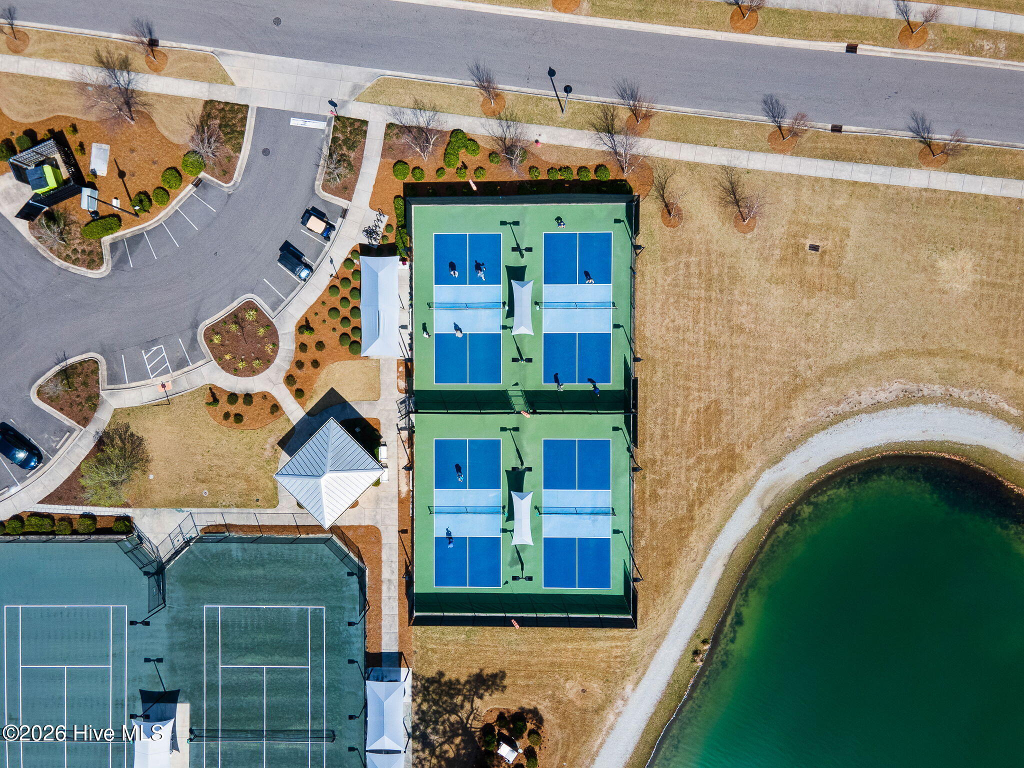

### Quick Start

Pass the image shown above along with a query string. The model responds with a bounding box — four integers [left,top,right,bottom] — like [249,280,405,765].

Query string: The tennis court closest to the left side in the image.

[0,541,165,768]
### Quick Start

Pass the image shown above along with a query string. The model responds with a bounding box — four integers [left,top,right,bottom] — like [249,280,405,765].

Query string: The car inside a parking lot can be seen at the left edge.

[0,427,42,471]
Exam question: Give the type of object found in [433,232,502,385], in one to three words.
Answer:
sports court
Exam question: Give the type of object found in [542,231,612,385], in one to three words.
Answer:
sports court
